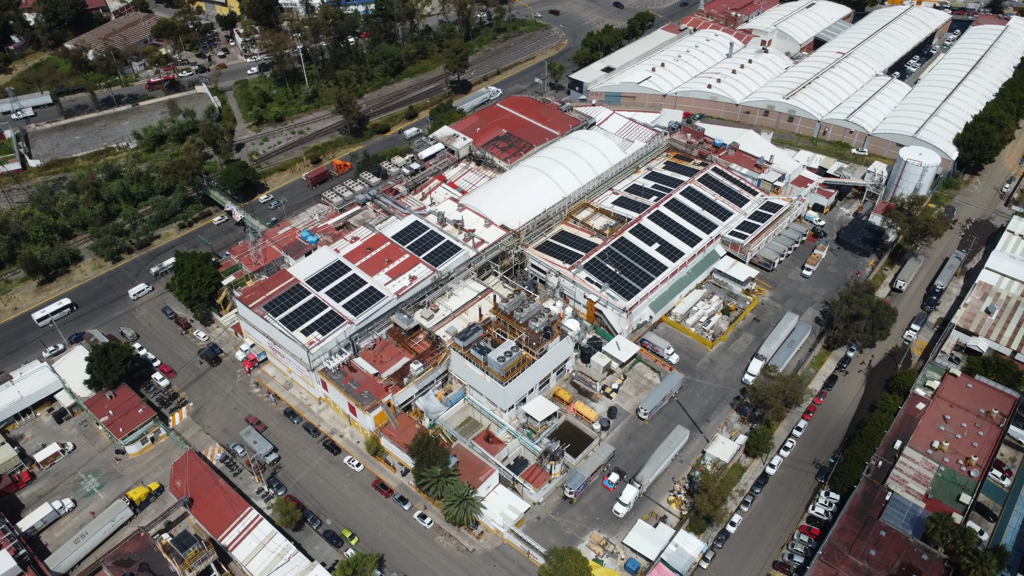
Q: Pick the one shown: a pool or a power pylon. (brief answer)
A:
power pylon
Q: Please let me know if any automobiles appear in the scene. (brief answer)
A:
Yes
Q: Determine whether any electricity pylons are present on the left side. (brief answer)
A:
Yes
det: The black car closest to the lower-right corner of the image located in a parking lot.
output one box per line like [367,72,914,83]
[970,501,1003,524]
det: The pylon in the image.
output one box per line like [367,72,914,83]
[237,212,267,267]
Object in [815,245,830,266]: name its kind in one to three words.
vehicle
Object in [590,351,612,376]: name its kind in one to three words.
building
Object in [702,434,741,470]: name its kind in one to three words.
shed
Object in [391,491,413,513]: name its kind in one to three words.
car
